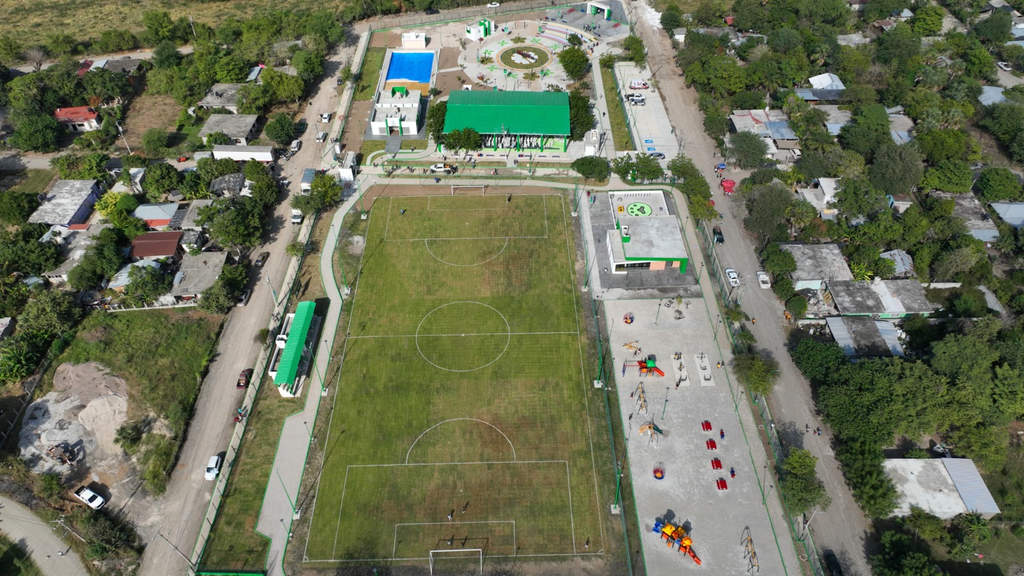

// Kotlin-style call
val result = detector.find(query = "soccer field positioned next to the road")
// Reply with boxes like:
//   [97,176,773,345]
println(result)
[301,192,606,566]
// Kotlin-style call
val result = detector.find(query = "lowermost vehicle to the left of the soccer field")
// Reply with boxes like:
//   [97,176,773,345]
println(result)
[70,482,103,508]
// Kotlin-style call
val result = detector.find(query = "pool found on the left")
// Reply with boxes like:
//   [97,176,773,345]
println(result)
[372,46,440,98]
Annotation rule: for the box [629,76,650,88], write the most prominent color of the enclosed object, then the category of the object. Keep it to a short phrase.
white vehicle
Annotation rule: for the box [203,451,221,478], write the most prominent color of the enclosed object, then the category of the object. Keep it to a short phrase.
white car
